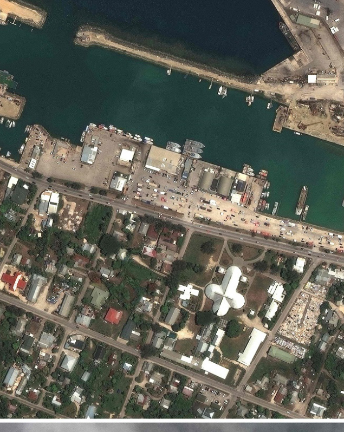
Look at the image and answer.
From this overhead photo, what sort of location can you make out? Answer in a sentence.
This image shows a port.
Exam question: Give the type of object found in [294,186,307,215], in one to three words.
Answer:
ship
